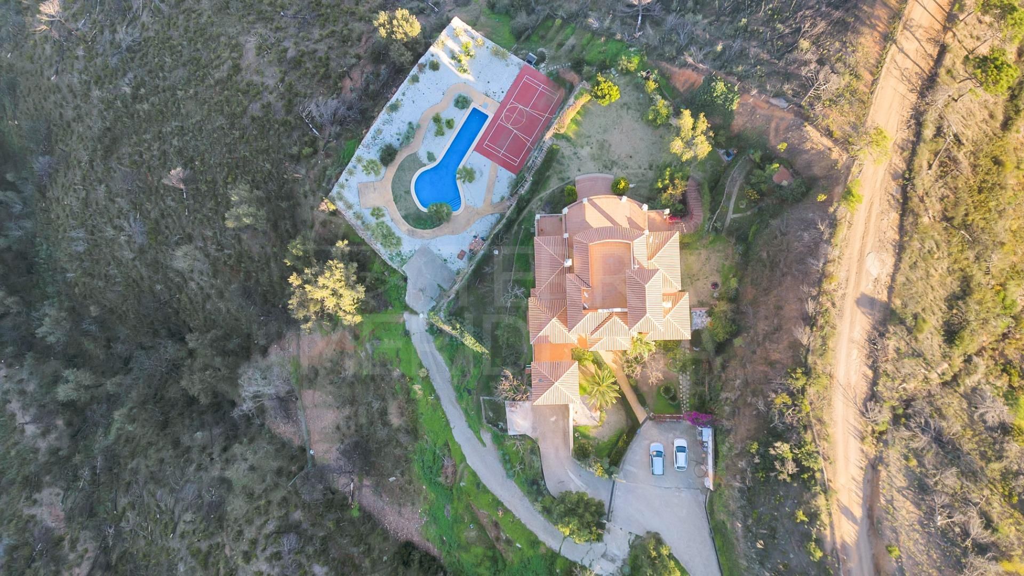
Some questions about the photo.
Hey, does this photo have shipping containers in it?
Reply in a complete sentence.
No, there appears to be no shipping container in this shot.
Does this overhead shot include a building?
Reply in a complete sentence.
Yes, a building can be made out from above.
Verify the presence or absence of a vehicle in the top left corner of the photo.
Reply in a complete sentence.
No, I see no vehicle in the top left corner of the photo.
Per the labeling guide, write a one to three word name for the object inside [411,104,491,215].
swimming pool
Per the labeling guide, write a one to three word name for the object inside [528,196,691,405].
house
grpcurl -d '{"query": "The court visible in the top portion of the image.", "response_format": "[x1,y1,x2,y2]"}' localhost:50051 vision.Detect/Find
[474,64,563,174]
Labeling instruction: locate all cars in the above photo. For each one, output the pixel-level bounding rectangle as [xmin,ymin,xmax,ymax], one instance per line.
[674,439,690,473]
[650,443,666,477]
